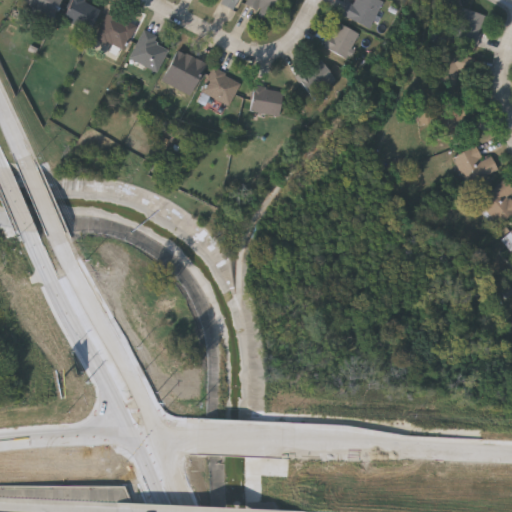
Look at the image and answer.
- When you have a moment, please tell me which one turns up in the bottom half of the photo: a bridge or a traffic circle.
bridge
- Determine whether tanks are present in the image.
No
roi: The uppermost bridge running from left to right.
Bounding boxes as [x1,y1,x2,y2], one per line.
[192,418,266,456]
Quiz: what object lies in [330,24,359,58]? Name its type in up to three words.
house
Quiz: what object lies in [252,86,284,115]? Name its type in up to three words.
house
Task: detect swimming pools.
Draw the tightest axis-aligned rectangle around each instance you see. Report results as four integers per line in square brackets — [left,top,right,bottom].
[377,22,388,34]
[361,36,372,47]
